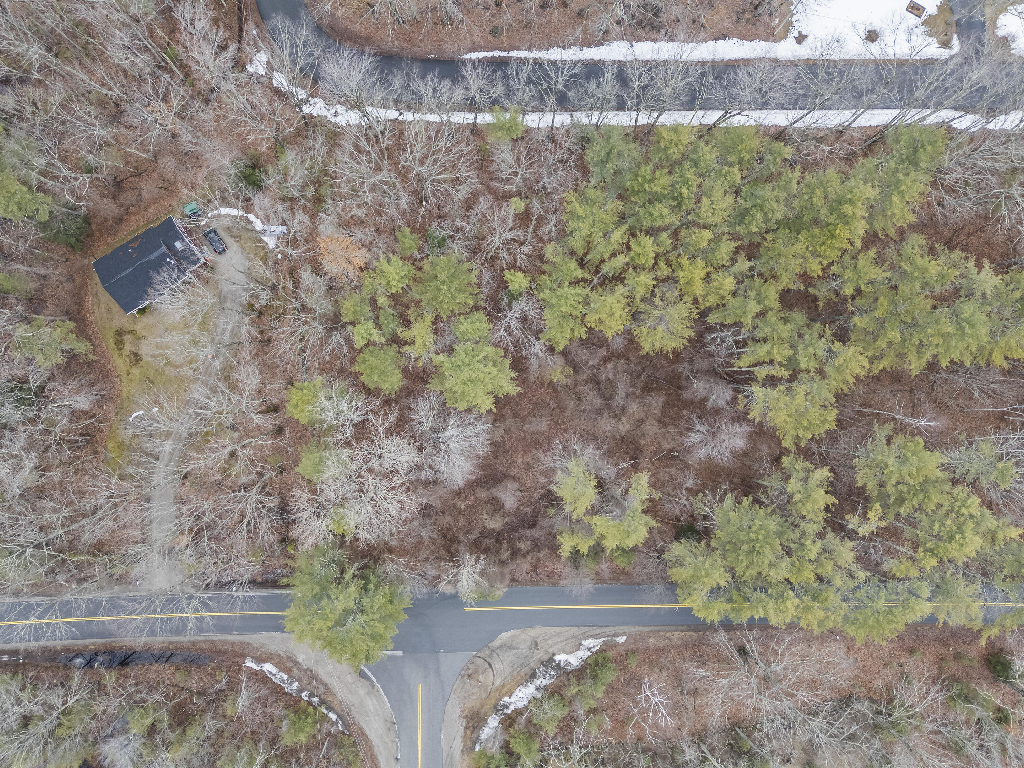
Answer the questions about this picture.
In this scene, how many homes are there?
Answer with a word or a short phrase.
1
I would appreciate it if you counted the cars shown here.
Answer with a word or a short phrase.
1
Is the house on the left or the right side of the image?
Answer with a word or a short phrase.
left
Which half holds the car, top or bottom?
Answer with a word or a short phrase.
top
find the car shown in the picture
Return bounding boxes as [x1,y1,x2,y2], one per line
[205,227,227,256]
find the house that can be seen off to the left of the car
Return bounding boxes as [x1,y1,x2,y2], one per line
[92,215,211,322]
